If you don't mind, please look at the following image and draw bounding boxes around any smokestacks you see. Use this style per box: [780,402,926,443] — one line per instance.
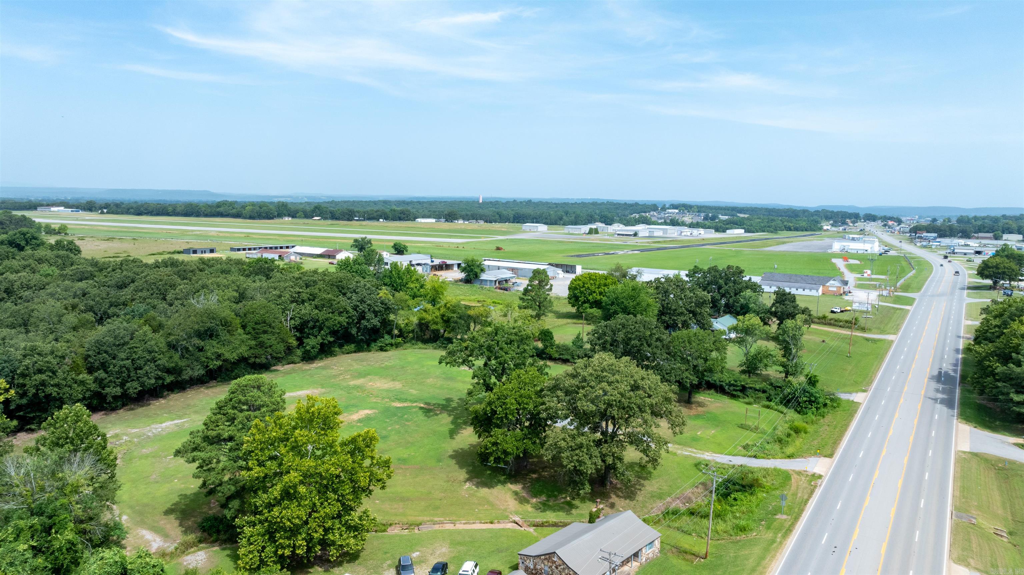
[585,491,603,523]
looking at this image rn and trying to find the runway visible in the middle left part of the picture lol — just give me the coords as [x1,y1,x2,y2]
[35,219,466,243]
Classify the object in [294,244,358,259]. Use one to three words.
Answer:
barn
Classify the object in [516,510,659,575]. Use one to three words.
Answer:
house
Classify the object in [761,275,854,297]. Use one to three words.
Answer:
building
